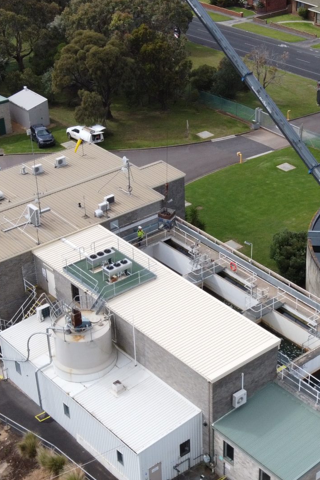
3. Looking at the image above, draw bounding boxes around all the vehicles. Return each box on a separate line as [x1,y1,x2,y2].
[28,118,48,146]
[60,118,115,142]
